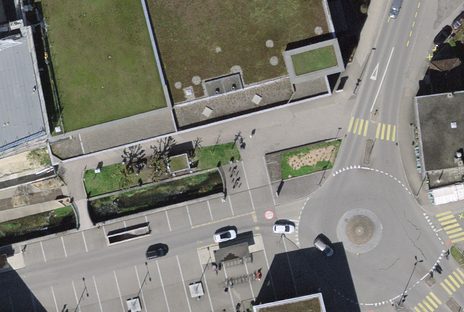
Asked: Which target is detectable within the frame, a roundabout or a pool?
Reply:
roundabout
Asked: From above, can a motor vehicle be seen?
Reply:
Yes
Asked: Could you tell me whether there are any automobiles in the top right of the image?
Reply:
Yes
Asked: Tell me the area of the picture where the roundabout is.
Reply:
bottom right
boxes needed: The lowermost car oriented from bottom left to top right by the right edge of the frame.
[432,24,454,46]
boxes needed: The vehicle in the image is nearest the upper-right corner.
[450,10,464,30]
